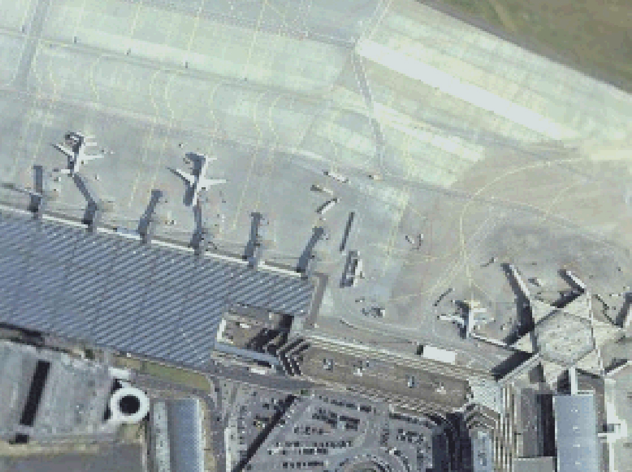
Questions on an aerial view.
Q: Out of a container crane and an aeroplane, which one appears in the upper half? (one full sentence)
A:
There is an aeroplane in the upper half.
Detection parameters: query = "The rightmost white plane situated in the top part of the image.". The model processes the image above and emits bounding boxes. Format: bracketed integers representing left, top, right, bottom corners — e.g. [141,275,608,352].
[178,152,227,208]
